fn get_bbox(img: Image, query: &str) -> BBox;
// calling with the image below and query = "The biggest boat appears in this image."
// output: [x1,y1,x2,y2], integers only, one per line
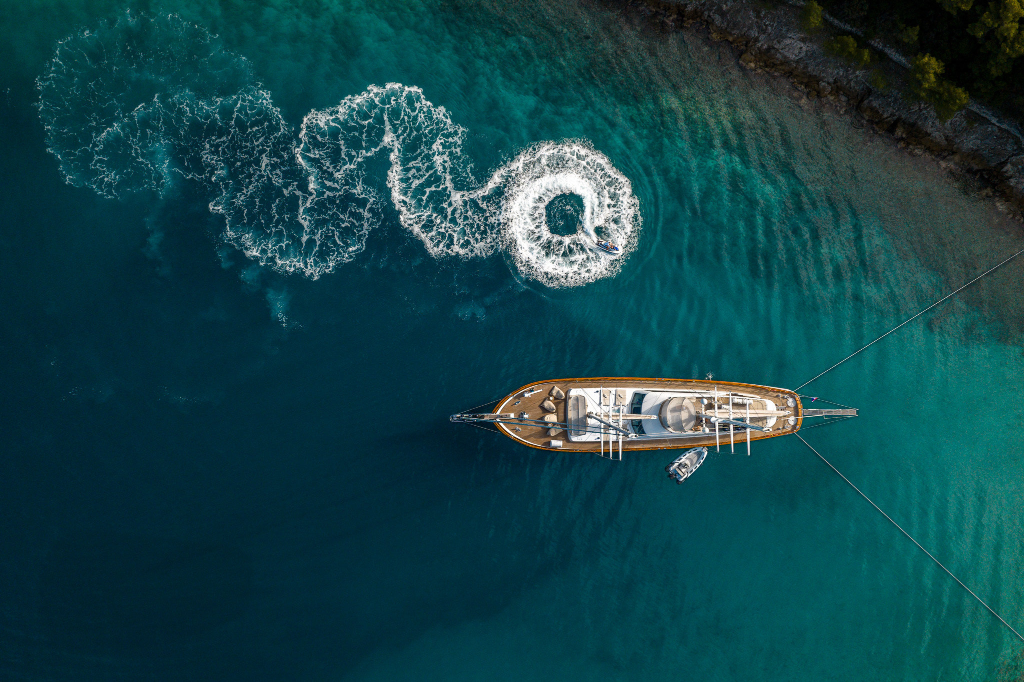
[450,377,858,461]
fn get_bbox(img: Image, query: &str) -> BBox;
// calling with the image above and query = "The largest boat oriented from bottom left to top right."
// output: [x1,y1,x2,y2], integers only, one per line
[666,448,716,486]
